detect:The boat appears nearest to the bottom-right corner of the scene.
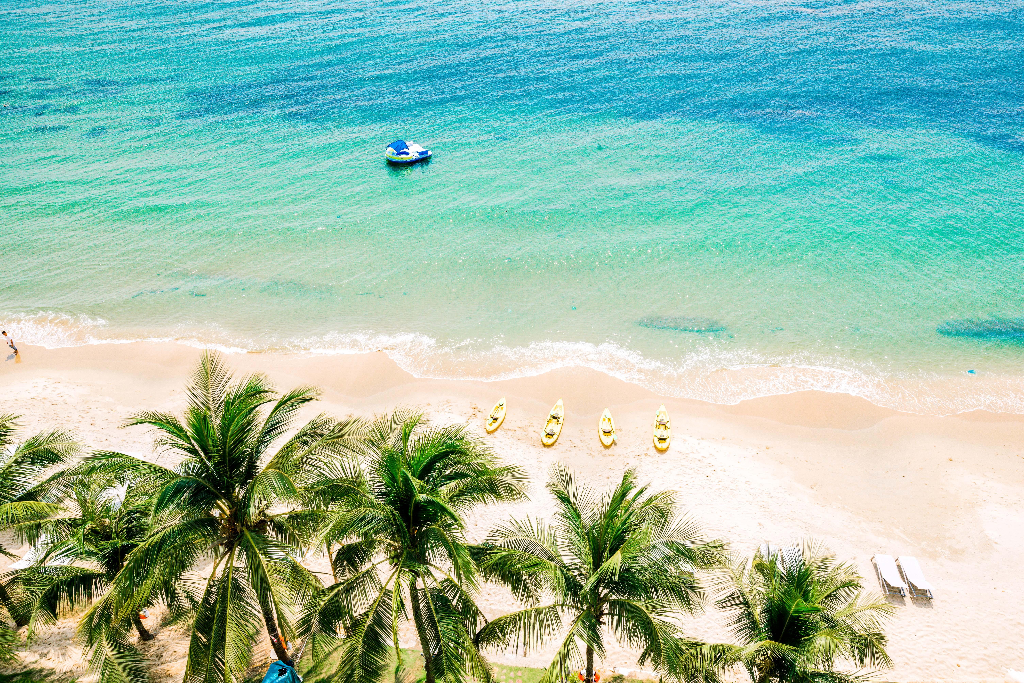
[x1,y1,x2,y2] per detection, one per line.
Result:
[652,403,671,452]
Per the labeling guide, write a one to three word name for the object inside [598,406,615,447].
boat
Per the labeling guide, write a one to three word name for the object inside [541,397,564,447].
boat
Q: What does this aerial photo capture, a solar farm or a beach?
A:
beach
